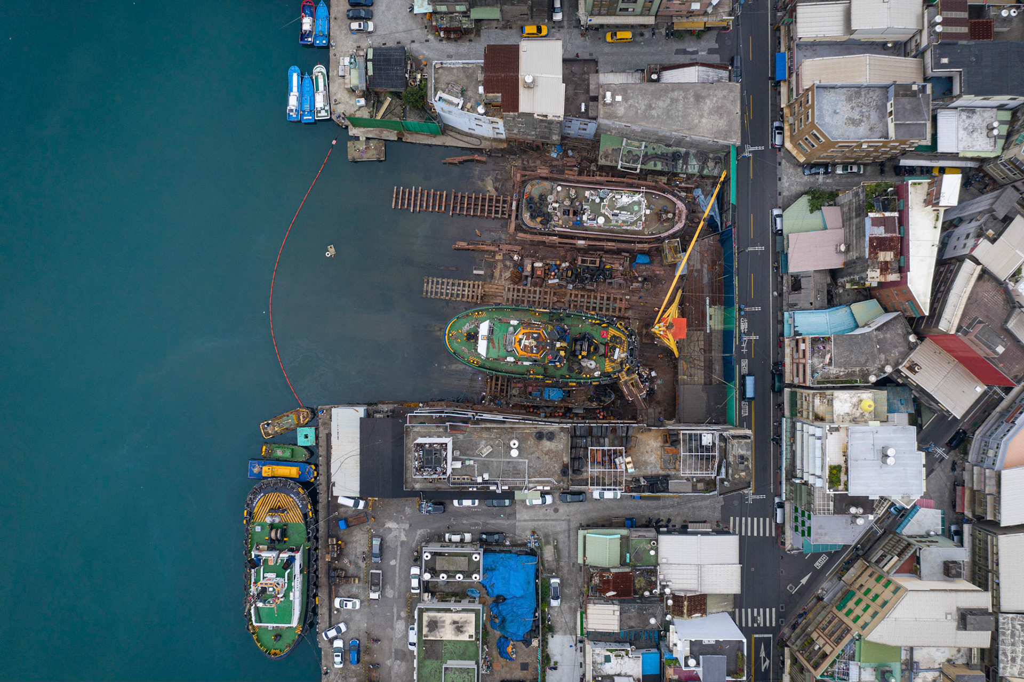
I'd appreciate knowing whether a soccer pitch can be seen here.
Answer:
No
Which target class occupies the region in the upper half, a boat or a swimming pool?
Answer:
boat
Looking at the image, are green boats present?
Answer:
Yes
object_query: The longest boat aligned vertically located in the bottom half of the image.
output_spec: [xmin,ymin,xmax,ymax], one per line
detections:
[242,475,319,662]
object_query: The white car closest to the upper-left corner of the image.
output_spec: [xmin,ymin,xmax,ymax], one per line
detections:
[347,19,374,33]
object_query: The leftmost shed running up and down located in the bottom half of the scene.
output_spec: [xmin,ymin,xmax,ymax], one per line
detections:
[330,405,368,498]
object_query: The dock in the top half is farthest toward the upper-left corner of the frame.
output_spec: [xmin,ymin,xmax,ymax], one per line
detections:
[348,137,386,162]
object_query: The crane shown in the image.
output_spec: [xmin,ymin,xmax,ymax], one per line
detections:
[649,167,729,360]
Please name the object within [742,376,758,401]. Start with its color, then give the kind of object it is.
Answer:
blue vehicle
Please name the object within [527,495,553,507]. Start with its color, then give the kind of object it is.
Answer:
white vehicle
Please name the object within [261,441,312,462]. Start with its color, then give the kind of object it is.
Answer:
green boat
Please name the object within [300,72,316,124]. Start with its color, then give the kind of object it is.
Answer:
blue boat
